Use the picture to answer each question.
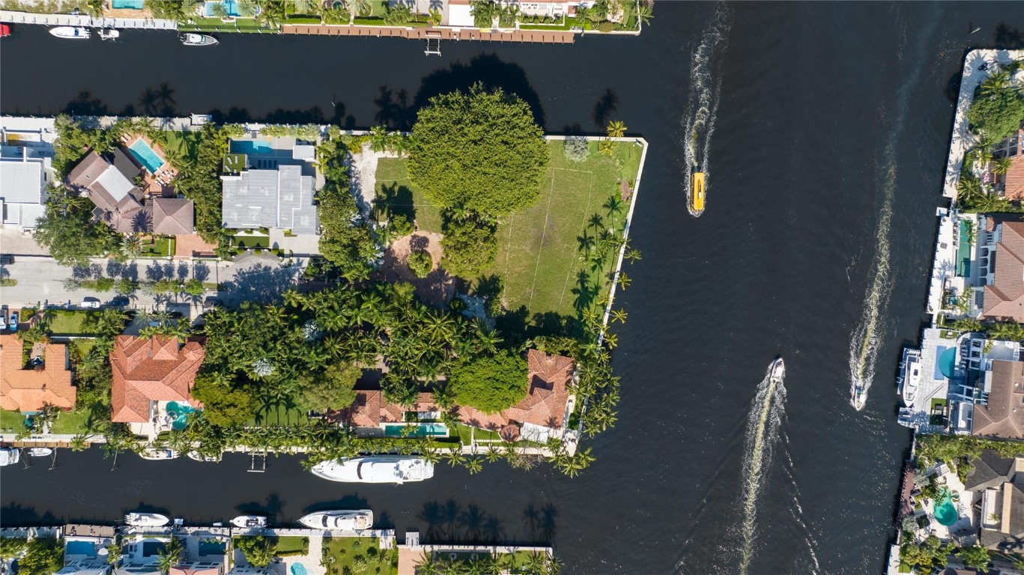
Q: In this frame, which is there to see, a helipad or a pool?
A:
pool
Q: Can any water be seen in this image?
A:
Yes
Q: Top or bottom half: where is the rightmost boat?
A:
bottom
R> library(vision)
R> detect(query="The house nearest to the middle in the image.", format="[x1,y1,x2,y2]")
[323,349,575,443]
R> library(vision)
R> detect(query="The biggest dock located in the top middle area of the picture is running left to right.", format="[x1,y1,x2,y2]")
[281,24,575,46]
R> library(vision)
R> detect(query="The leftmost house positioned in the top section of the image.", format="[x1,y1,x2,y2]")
[0,131,60,230]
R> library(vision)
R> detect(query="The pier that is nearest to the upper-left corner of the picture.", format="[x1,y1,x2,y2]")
[0,9,178,32]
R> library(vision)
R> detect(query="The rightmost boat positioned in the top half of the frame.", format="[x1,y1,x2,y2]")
[180,33,219,47]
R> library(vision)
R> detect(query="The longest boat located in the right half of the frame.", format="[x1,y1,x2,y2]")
[903,351,924,407]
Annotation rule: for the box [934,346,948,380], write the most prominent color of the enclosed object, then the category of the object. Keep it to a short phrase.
blue swimming pool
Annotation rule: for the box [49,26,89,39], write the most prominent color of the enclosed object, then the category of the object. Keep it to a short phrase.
white boat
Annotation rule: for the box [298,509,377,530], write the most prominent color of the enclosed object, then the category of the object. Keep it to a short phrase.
white boat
